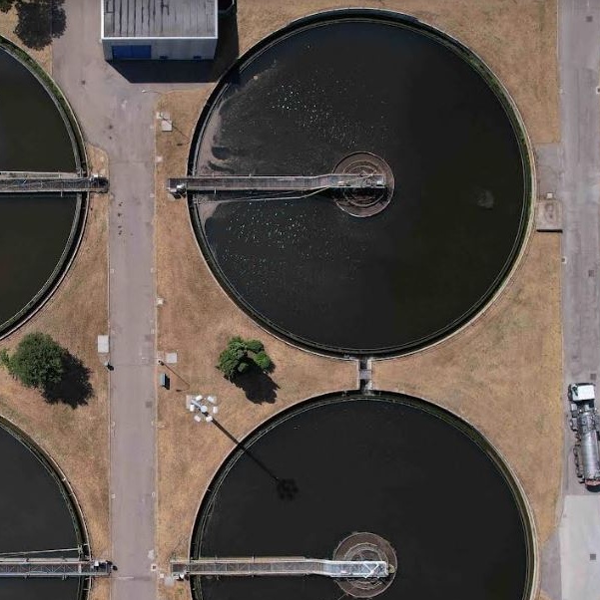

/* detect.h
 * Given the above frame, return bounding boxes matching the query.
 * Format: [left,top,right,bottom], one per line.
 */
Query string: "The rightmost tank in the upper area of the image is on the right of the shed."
[187,9,538,360]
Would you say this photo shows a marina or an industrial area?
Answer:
industrial area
